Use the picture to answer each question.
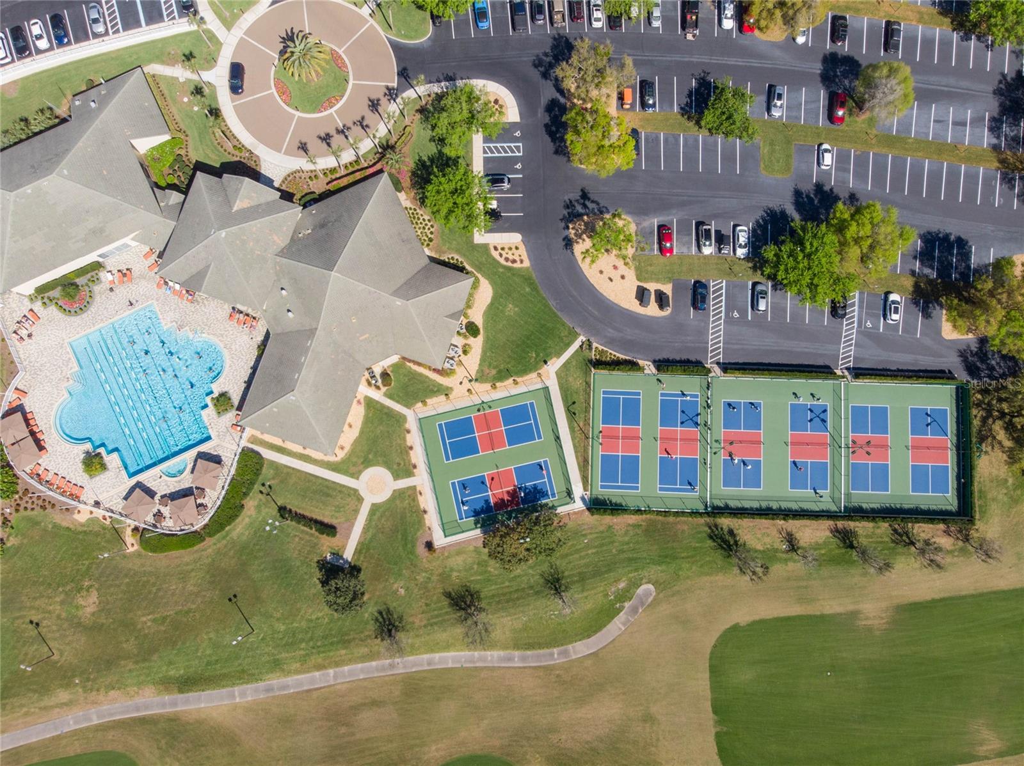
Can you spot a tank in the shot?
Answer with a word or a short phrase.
No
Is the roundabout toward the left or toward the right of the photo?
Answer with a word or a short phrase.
left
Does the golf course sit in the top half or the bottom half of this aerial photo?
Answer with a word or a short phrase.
bottom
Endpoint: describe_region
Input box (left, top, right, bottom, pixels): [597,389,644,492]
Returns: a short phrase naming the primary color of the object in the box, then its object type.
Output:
blue sports court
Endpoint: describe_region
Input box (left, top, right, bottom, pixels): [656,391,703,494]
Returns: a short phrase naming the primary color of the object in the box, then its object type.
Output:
blue sports court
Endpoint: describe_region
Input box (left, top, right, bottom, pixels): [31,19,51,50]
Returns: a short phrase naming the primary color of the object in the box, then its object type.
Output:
white car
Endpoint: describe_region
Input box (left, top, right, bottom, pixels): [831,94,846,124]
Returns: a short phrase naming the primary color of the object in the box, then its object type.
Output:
red car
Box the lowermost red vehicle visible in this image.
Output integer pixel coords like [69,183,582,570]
[659,226,674,256]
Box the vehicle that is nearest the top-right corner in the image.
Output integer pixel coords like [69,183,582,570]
[884,22,901,55]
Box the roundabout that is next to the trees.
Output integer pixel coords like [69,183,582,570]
[215,0,400,169]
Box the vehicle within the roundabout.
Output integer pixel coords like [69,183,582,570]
[228,62,245,94]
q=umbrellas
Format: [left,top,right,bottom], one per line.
[169,496,200,527]
[7,436,43,471]
[121,488,158,524]
[191,459,222,490]
[0,412,31,446]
